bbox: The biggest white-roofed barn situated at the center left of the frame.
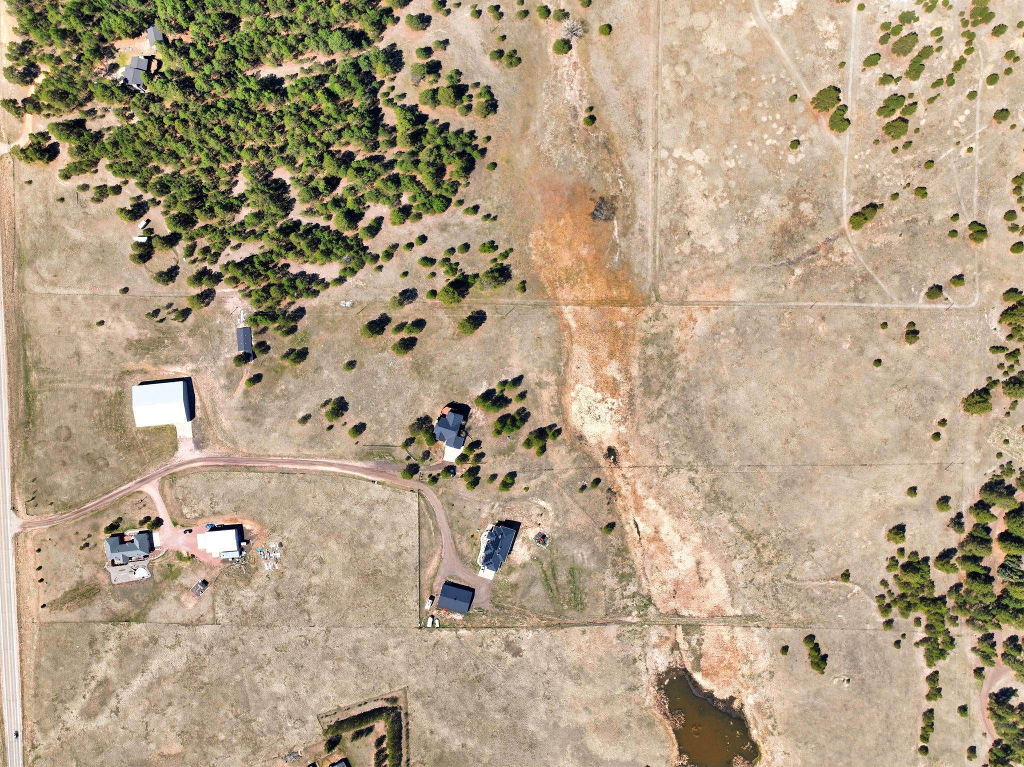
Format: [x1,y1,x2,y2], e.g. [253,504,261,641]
[132,381,191,427]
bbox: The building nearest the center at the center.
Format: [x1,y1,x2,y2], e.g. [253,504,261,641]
[434,407,465,450]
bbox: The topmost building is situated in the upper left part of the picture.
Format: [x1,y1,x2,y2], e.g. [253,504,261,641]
[147,26,165,48]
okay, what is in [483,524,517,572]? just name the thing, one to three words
house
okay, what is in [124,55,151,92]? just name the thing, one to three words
house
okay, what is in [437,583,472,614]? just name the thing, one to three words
building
